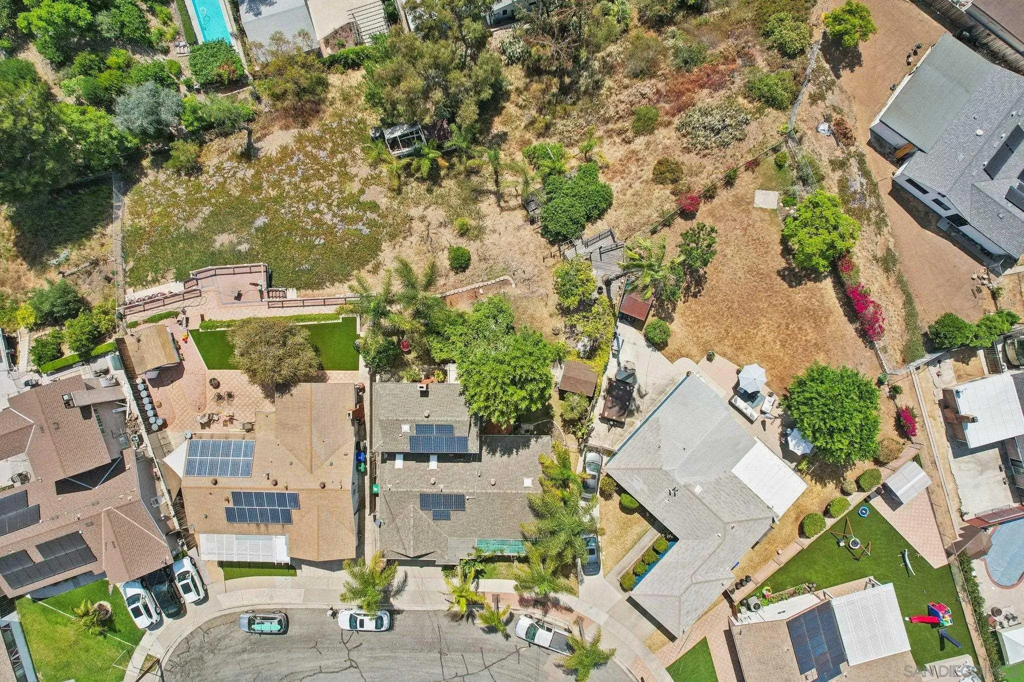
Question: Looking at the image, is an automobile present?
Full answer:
Yes, there is an automobile in the image.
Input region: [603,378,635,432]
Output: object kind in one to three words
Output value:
trailer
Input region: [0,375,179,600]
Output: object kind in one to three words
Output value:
house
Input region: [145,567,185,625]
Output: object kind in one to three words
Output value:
car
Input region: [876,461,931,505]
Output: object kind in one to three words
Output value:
shed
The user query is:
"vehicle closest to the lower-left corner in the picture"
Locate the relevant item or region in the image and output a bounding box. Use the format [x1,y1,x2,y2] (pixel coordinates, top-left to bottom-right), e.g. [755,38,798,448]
[119,582,156,635]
